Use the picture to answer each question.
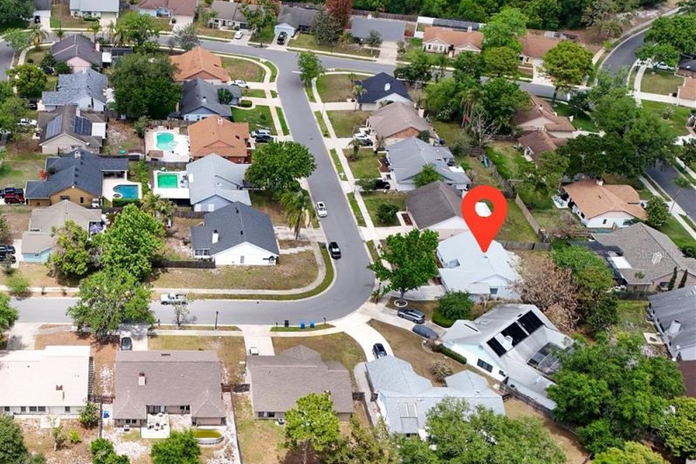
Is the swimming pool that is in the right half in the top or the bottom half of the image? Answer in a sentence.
The swimming pool that is in the right half is in the bottom half of the image.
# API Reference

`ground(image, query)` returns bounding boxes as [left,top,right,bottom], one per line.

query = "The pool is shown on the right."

[527,343,568,375]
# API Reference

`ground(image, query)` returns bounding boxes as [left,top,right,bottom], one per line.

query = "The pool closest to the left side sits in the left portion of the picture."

[104,180,143,203]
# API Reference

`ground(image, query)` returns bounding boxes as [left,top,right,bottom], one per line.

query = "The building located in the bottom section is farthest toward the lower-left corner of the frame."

[0,337,91,415]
